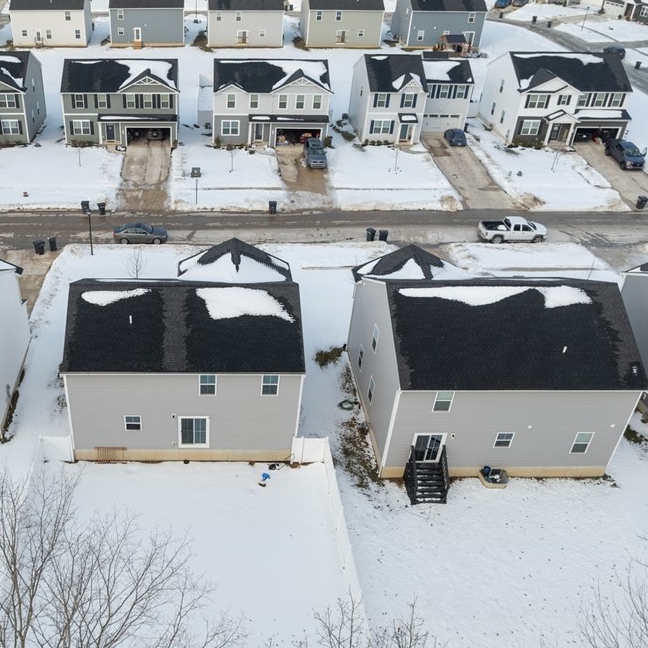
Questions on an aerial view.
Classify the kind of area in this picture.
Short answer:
residential area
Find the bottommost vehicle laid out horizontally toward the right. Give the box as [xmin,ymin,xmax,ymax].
[471,212,547,241]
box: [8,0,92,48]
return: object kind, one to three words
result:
house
